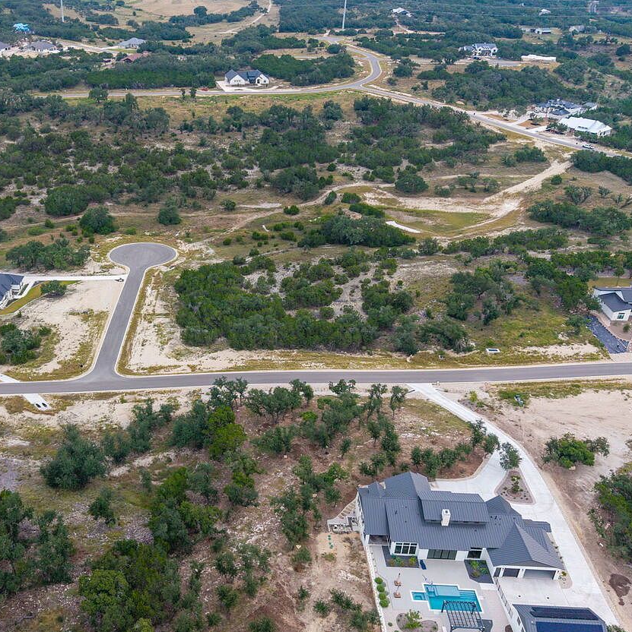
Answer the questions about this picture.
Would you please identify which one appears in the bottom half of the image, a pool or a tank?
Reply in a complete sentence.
There is a pool in the bottom half of the image.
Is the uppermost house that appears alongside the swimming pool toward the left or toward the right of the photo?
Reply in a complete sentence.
The uppermost house that appears alongside the swimming pool sits on the right side.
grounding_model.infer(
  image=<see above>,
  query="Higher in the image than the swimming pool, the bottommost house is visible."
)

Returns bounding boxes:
[357,469,565,581]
